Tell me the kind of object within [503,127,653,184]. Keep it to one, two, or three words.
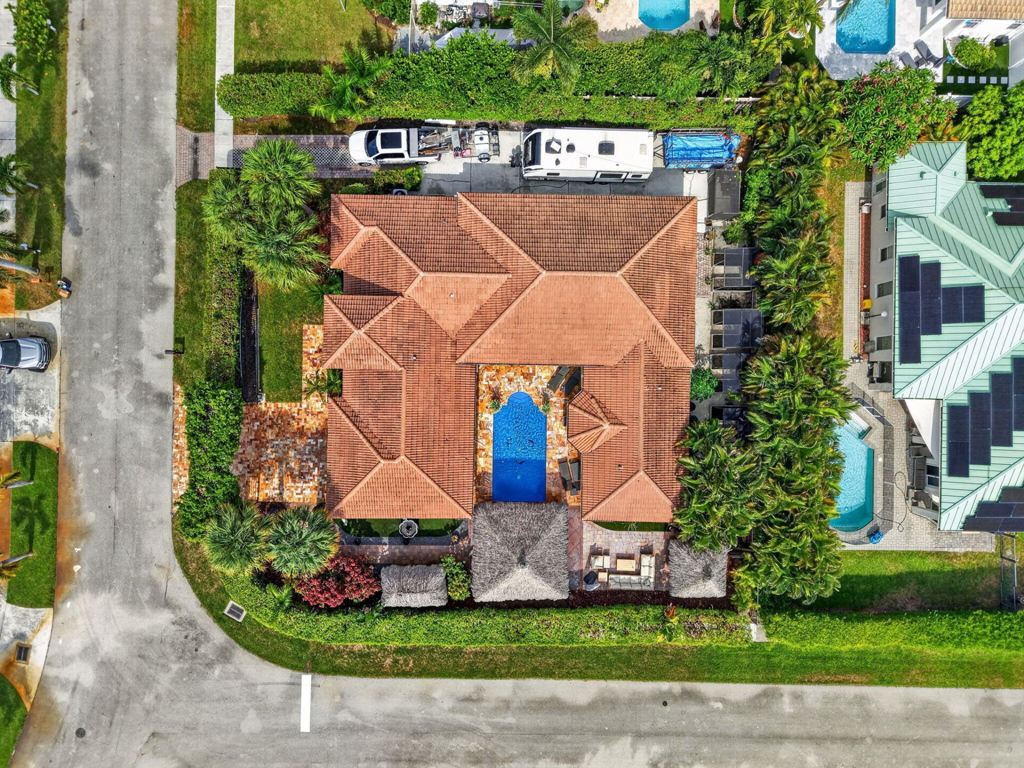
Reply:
trailer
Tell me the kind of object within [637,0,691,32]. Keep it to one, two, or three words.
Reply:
swimming pool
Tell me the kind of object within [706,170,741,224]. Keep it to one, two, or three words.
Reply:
shed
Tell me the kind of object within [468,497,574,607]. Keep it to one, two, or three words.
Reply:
shed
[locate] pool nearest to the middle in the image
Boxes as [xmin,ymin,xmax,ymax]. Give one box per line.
[492,391,546,503]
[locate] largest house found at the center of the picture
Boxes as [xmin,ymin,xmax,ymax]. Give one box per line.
[322,191,699,524]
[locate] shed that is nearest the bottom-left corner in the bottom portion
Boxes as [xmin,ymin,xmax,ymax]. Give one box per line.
[378,560,451,611]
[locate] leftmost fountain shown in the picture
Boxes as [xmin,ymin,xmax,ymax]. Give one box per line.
[399,520,417,537]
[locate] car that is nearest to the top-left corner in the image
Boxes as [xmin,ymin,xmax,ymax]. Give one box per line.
[0,332,51,372]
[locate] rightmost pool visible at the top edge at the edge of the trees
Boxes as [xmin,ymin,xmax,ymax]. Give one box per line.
[835,0,897,55]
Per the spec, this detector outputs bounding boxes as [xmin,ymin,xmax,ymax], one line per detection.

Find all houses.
[872,143,1024,533]
[322,191,699,524]
[921,0,1024,43]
